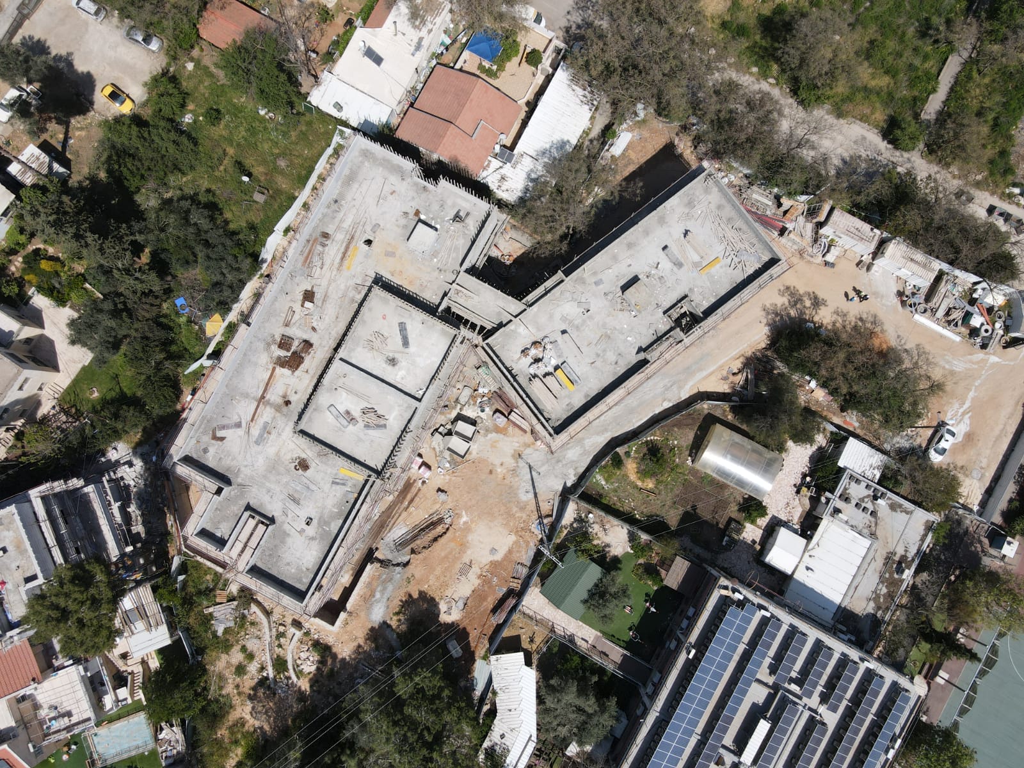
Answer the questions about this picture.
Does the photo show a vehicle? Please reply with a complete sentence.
Yes, there is a vehicle in the image.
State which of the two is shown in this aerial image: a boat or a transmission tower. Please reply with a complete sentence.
Of the two, only a transmission tower appears.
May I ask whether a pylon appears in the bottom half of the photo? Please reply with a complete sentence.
Yes, looking in the bottom half of the photo, one can make out a pylon.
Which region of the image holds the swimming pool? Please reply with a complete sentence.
The swimming pool is located in the bottom left region of the scene.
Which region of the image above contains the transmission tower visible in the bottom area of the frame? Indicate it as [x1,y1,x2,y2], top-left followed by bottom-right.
[537,530,565,570]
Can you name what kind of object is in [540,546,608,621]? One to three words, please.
house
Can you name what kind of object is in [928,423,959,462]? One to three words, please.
car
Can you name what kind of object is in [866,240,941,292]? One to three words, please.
shed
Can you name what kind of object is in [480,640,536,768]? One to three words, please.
shed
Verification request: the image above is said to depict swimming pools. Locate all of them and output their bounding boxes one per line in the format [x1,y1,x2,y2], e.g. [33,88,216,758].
[81,709,157,767]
